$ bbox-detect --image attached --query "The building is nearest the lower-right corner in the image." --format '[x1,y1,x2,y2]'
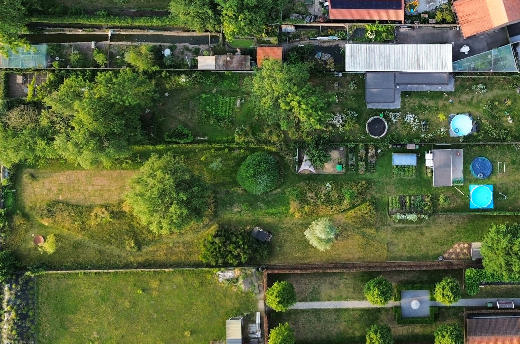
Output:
[467,314,520,344]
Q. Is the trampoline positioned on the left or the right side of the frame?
right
